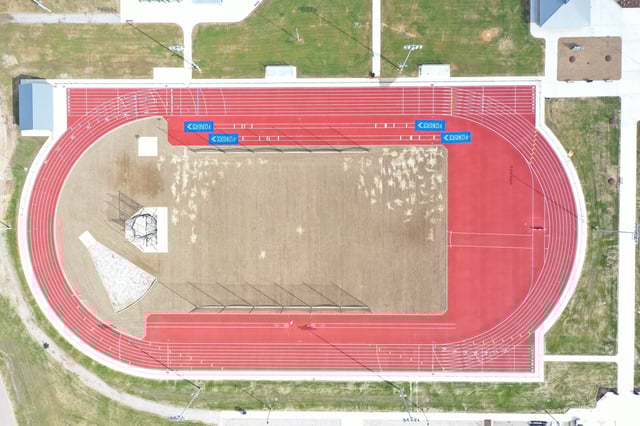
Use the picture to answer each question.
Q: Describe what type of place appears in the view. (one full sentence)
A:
This looks like a sports ground.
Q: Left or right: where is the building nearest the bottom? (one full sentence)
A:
The building nearest the bottom appears in the left half of the scene.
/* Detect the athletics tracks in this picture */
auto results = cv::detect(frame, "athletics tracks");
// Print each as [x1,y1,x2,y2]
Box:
[27,85,577,372]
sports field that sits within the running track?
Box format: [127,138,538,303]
[55,117,448,339]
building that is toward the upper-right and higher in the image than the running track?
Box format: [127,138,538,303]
[538,0,591,29]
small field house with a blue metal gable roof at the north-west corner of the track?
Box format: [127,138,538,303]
[18,82,57,130]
